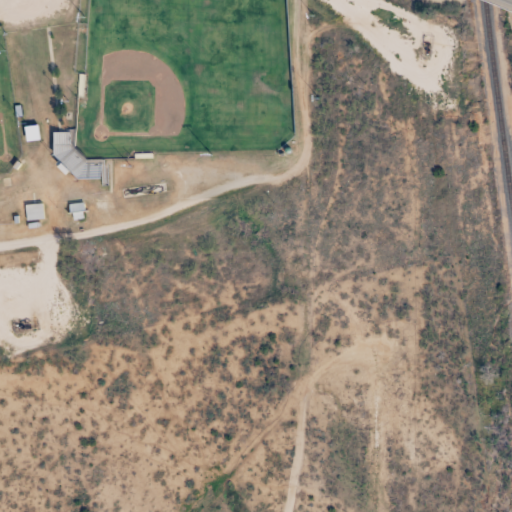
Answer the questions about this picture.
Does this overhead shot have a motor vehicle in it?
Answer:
No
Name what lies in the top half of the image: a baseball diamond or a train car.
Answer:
baseball diamond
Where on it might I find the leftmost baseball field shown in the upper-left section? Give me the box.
[0,27,20,176]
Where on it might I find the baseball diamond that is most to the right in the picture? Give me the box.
[76,0,294,158]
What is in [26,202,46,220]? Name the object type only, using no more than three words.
barn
